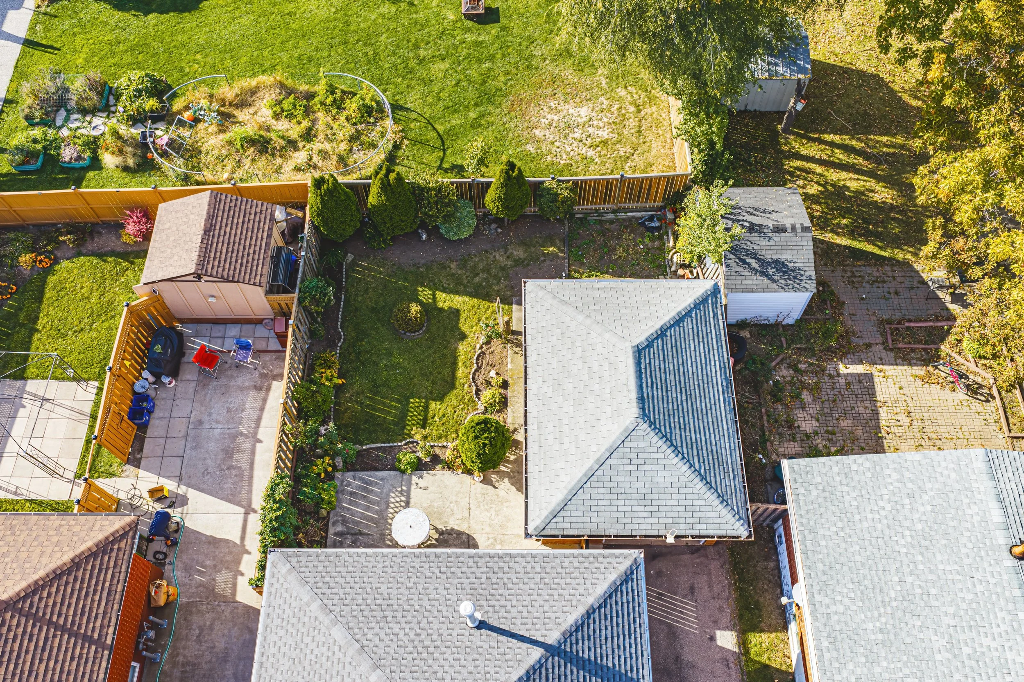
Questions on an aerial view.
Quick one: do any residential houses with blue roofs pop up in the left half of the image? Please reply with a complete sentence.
No, no residential house with a blue roof is visible in the left half of the image.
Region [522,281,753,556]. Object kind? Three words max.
building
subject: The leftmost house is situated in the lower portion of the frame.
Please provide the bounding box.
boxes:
[0,512,163,682]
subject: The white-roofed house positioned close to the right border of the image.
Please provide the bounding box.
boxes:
[773,447,1024,682]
